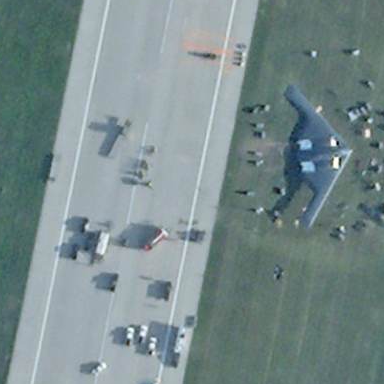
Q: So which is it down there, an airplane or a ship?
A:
airplane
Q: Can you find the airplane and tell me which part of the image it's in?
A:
right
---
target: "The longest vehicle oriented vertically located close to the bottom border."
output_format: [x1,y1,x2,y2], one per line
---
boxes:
[173,323,189,365]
